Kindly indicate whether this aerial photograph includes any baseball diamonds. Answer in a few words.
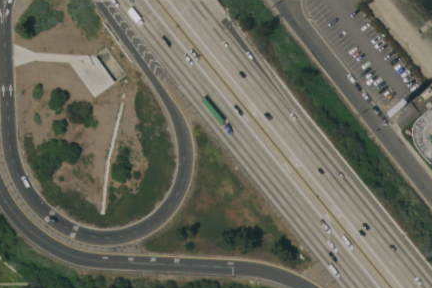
No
